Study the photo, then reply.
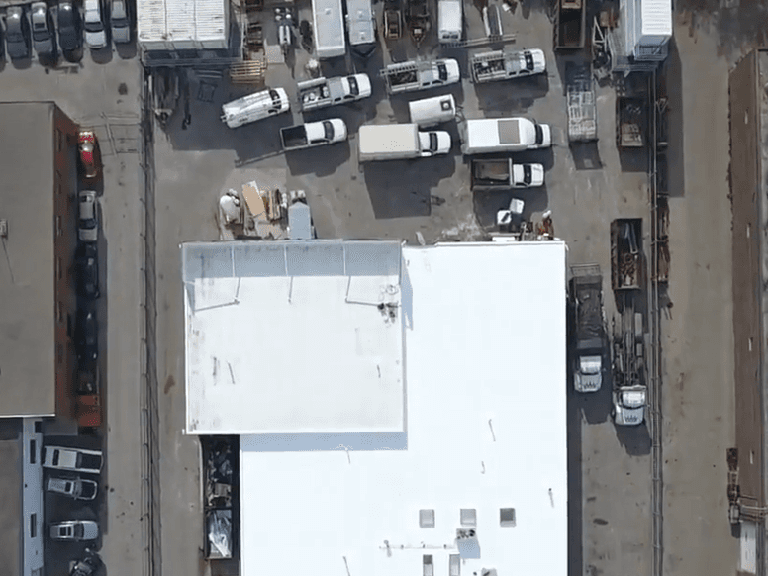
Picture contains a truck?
Yes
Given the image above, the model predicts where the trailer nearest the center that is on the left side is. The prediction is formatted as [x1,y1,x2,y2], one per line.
[287,199,315,240]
